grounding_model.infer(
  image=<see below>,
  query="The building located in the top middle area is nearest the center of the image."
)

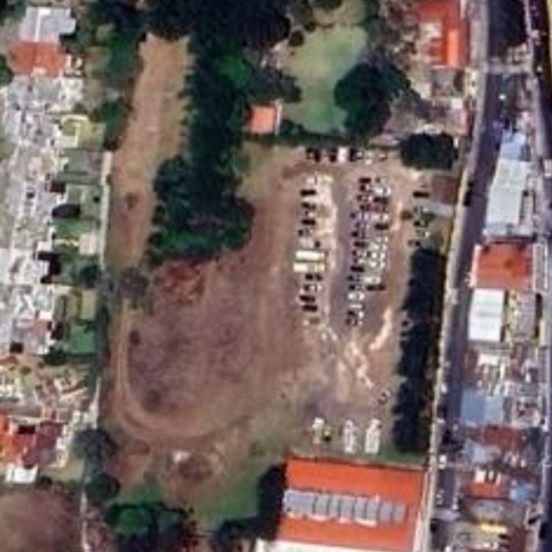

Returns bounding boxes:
[245,99,282,140]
